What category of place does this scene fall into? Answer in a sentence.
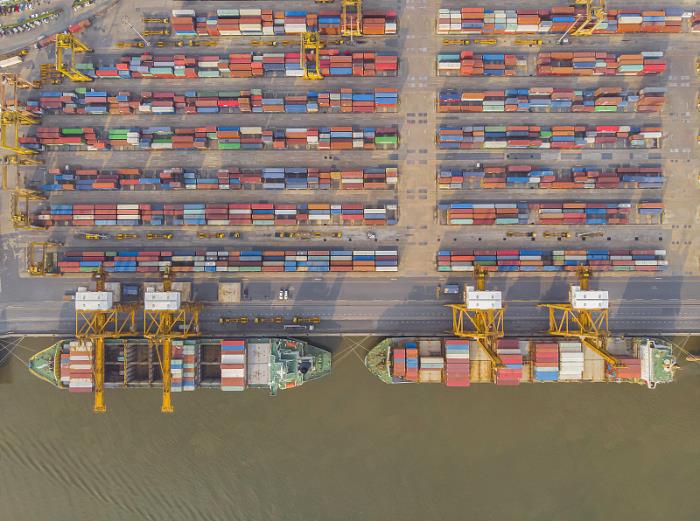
What you see here is a port.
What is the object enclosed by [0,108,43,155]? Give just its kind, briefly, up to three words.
container crane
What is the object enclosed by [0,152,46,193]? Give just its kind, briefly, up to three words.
container crane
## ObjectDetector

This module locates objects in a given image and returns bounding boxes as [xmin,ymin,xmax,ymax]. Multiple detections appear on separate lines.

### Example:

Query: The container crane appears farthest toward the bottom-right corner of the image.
[541,263,630,367]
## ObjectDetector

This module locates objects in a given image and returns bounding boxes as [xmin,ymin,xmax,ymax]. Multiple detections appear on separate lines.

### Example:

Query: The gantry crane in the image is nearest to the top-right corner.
[571,0,610,40]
